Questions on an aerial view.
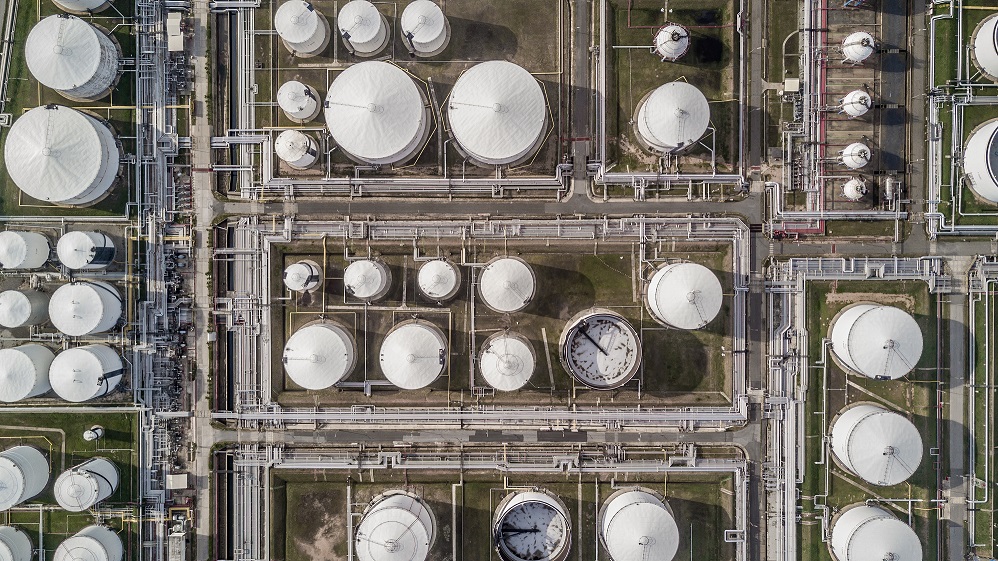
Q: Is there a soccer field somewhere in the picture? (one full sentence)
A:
No, I can't see a single soccer field in this photo.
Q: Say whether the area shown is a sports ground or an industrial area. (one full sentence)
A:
The picture captures an industrial area.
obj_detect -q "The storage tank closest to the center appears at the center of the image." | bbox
[462,246,537,315]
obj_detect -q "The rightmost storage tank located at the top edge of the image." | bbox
[967,12,998,85]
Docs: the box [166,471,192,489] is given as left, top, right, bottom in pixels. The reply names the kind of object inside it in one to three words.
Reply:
building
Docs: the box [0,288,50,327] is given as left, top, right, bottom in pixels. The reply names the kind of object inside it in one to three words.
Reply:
storage tank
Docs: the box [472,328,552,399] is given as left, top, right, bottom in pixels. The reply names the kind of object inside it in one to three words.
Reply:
storage tank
